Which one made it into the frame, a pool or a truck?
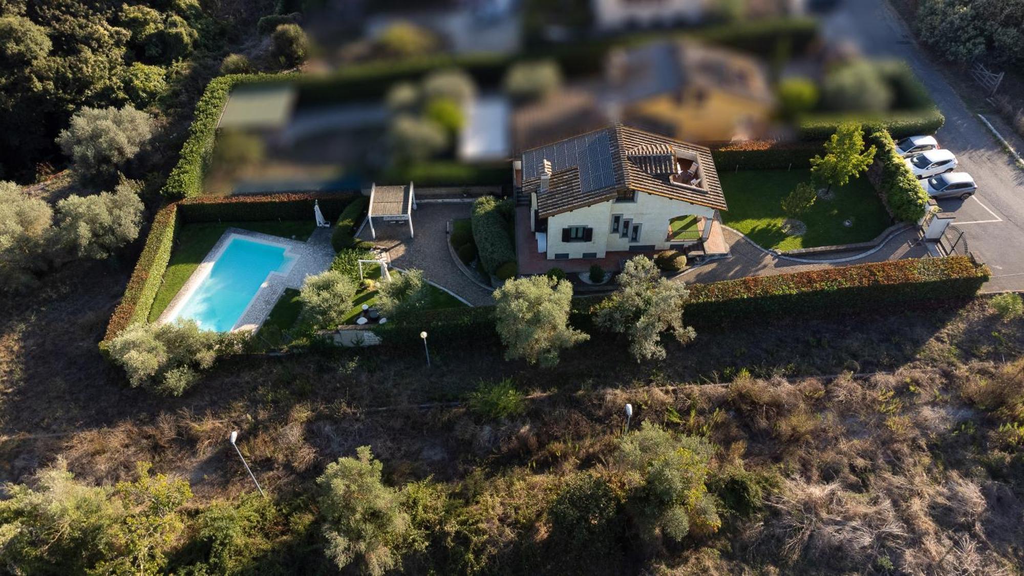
pool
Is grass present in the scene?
Yes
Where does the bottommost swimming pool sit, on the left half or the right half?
left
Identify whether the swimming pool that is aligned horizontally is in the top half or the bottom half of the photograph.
top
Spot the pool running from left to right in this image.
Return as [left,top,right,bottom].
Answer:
[222,173,373,196]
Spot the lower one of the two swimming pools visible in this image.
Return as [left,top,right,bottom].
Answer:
[161,233,304,335]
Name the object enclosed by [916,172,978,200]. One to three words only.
car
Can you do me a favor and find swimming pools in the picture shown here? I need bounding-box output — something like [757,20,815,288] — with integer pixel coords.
[222,173,373,196]
[161,233,304,335]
